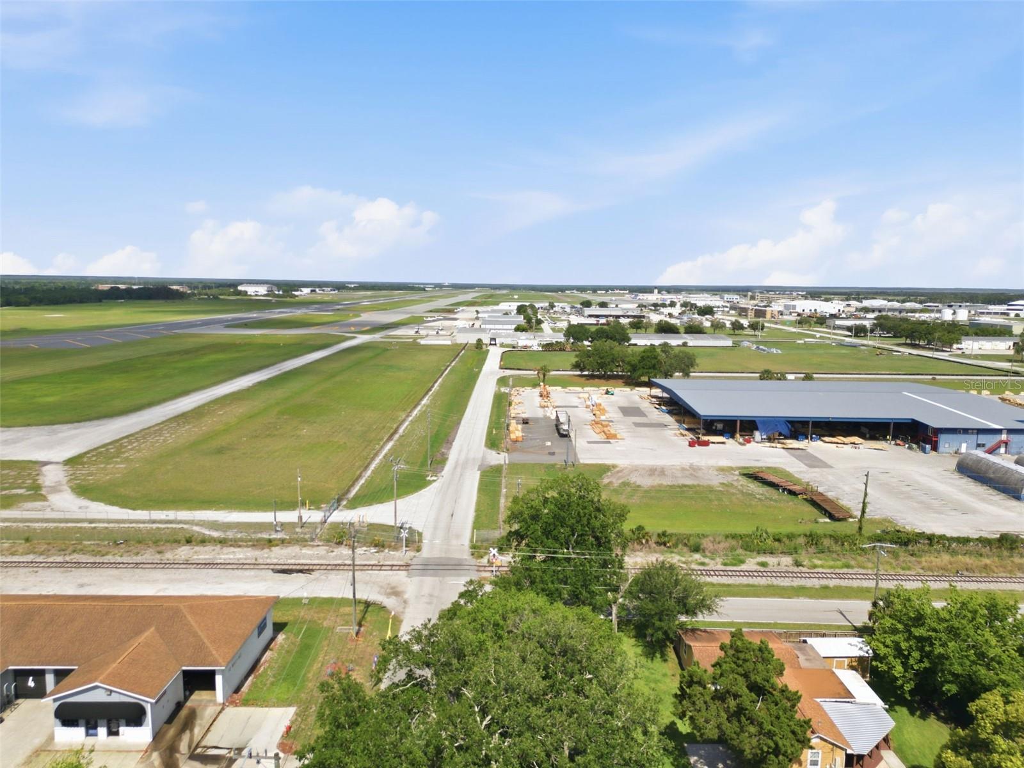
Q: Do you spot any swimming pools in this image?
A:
No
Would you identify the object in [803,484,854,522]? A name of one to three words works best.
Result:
trailer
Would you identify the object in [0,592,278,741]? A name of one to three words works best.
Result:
building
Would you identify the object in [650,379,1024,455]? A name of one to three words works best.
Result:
shed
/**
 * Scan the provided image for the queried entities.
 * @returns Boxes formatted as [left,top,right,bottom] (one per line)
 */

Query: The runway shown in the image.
[0,289,472,348]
